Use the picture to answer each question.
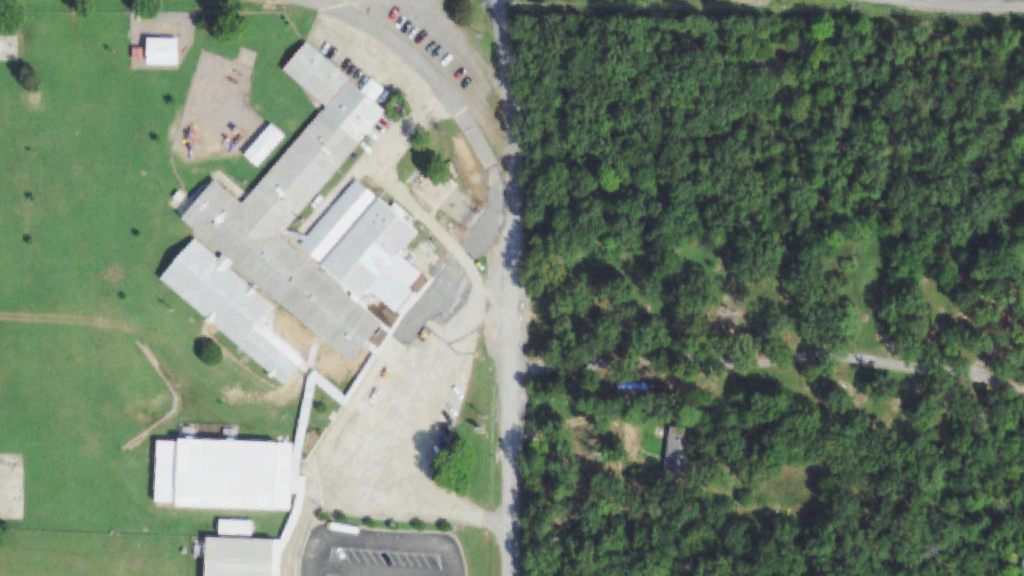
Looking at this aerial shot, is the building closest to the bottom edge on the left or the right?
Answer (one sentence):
The building closest to the bottom edge is on the left side of the image.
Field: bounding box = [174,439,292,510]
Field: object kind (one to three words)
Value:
building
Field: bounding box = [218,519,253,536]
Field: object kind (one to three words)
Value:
building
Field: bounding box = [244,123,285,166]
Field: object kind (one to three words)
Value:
shed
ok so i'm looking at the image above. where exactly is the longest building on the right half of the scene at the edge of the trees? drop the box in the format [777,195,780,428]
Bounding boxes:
[665,428,683,473]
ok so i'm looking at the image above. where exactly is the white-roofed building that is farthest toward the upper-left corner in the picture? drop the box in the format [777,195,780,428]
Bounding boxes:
[145,37,178,66]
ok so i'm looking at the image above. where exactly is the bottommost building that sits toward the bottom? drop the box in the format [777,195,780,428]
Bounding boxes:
[204,537,272,576]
